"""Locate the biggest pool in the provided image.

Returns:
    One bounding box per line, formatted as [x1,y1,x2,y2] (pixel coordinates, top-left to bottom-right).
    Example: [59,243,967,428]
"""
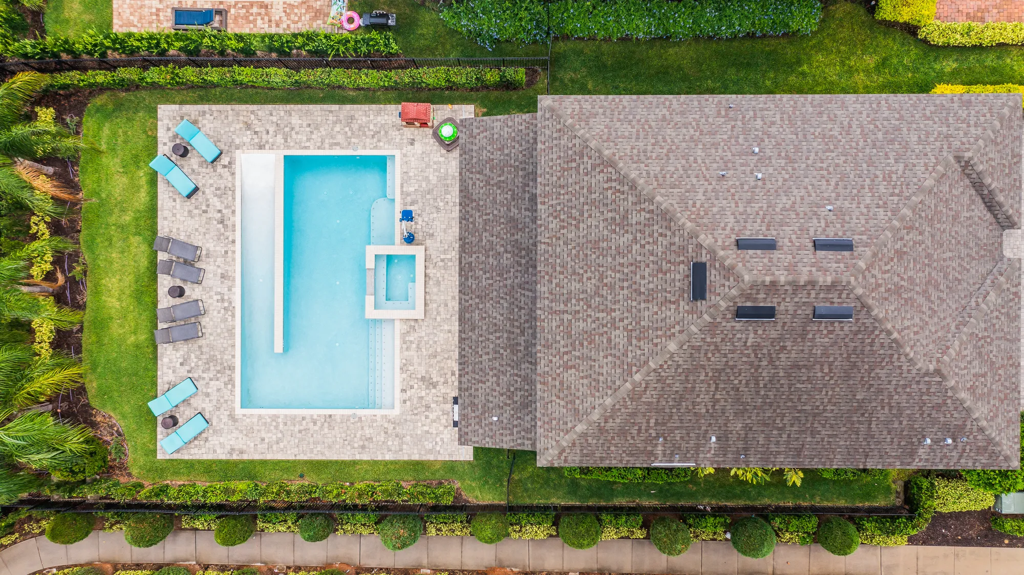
[236,145,400,419]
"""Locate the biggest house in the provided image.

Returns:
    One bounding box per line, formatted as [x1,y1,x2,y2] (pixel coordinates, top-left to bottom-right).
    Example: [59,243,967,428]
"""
[459,93,1023,468]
